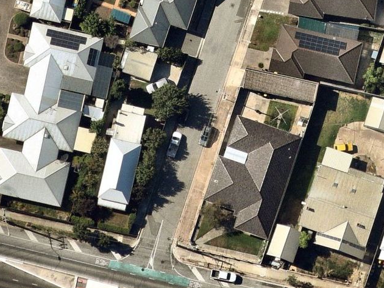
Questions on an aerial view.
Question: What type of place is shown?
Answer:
residential area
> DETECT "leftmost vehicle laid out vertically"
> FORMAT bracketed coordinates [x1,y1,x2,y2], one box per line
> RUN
[168,130,183,158]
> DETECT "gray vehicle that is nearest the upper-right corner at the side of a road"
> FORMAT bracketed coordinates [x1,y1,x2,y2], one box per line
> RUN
[198,121,214,147]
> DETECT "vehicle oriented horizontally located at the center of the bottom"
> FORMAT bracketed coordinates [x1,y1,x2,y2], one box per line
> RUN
[209,269,238,283]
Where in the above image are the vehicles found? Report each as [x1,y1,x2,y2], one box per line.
[334,141,353,151]
[198,121,214,147]
[209,269,238,283]
[147,75,173,90]
[168,130,183,158]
